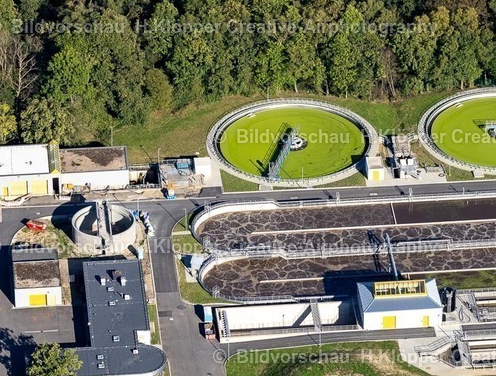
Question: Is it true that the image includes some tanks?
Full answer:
Yes, the photo shows a tank.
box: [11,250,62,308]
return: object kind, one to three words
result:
building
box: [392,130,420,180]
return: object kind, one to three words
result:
building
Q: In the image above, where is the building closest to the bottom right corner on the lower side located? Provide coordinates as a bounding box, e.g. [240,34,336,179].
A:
[359,278,443,330]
